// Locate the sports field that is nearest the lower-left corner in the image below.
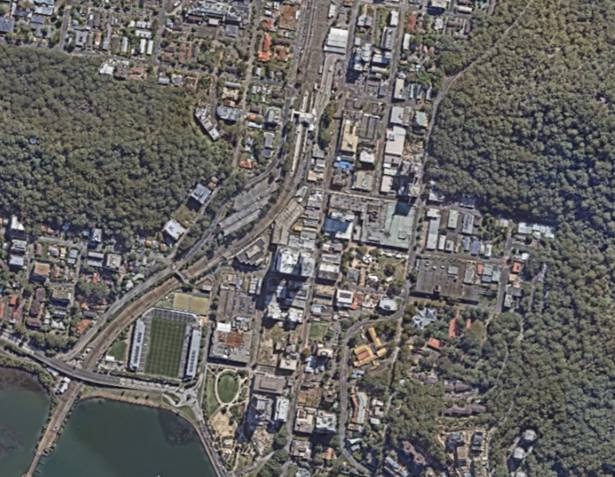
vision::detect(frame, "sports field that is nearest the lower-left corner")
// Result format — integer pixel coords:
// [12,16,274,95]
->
[145,314,186,379]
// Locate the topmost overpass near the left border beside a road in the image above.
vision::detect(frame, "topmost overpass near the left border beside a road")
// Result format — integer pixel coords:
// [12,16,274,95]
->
[0,333,187,400]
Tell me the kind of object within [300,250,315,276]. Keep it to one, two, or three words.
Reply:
building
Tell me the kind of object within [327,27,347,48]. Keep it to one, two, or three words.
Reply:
building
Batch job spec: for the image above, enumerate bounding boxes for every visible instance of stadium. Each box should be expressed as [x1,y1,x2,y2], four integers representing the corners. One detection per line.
[128,304,202,386]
